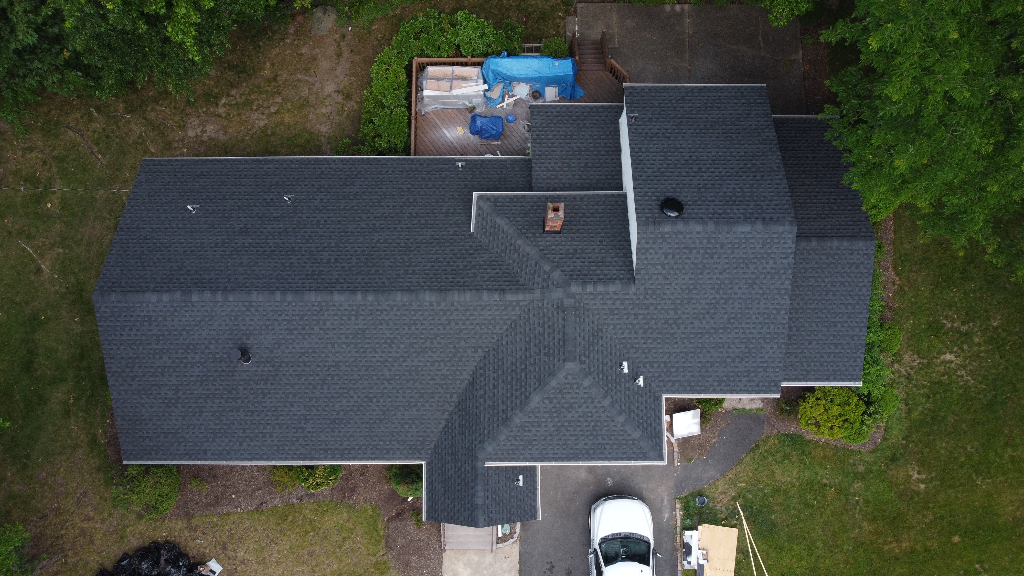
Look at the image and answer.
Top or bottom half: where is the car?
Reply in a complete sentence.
The car sits in the bottom half of the picture.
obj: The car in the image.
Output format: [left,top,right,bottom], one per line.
[584,490,664,576]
